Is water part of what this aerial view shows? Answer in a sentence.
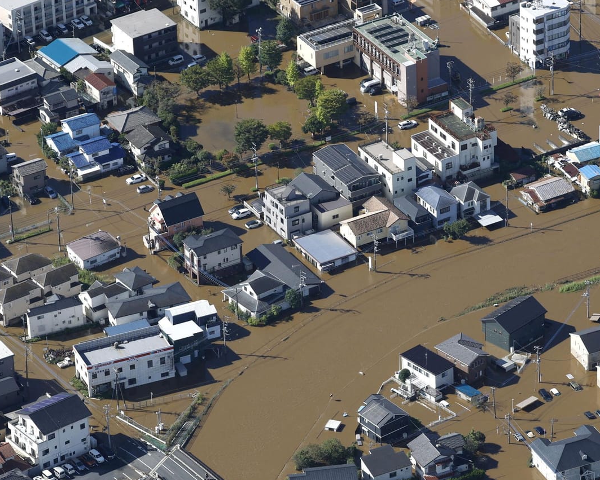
Yes, water shows up in the scene.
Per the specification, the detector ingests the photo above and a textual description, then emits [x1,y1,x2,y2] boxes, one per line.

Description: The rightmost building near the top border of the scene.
[518,0,571,67]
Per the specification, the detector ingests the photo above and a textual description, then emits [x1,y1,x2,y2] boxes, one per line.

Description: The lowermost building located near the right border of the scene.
[533,427,600,480]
